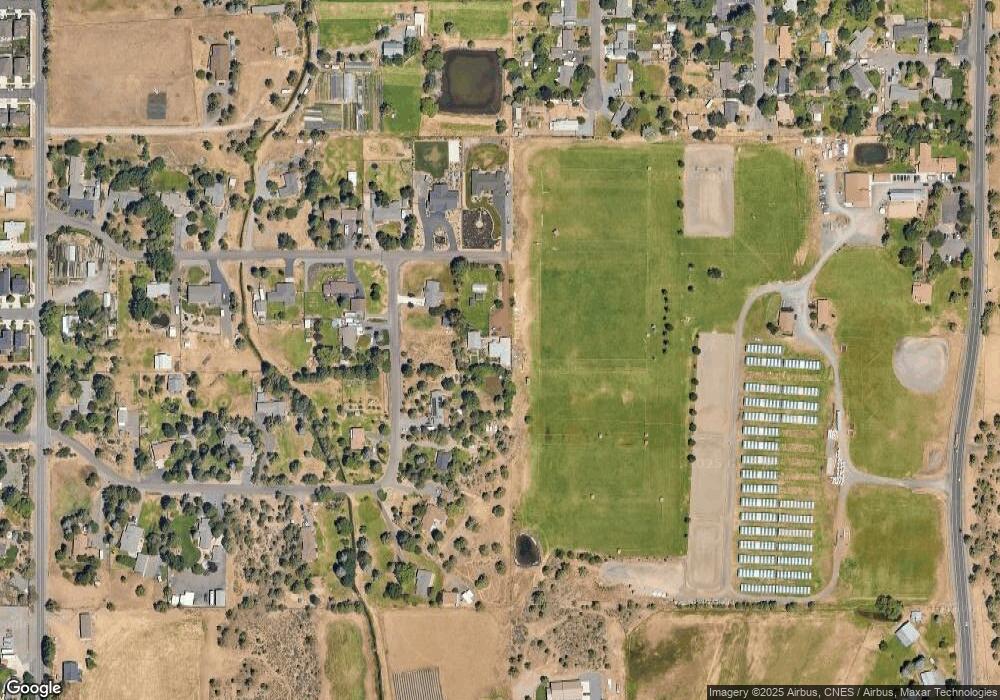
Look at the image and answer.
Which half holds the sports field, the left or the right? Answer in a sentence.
The sports field appears in the right half of the scene.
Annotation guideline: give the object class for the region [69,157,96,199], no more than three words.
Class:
house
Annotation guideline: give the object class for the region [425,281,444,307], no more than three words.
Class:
house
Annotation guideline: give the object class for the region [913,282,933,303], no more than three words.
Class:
building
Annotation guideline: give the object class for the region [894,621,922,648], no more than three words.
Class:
barn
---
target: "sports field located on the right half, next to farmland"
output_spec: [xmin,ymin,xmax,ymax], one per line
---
[520,146,806,555]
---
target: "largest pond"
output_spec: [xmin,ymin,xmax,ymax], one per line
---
[447,55,496,105]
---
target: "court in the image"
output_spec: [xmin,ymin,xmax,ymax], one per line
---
[147,93,166,119]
